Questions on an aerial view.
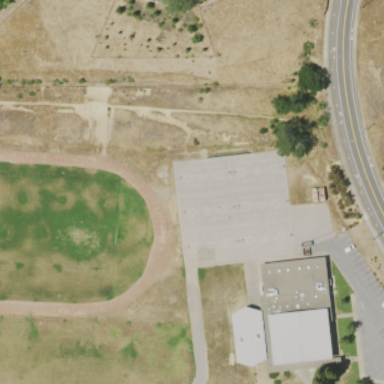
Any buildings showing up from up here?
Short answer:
Yes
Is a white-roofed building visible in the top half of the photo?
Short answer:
No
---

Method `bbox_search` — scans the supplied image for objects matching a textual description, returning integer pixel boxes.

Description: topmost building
[264,256,334,314]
